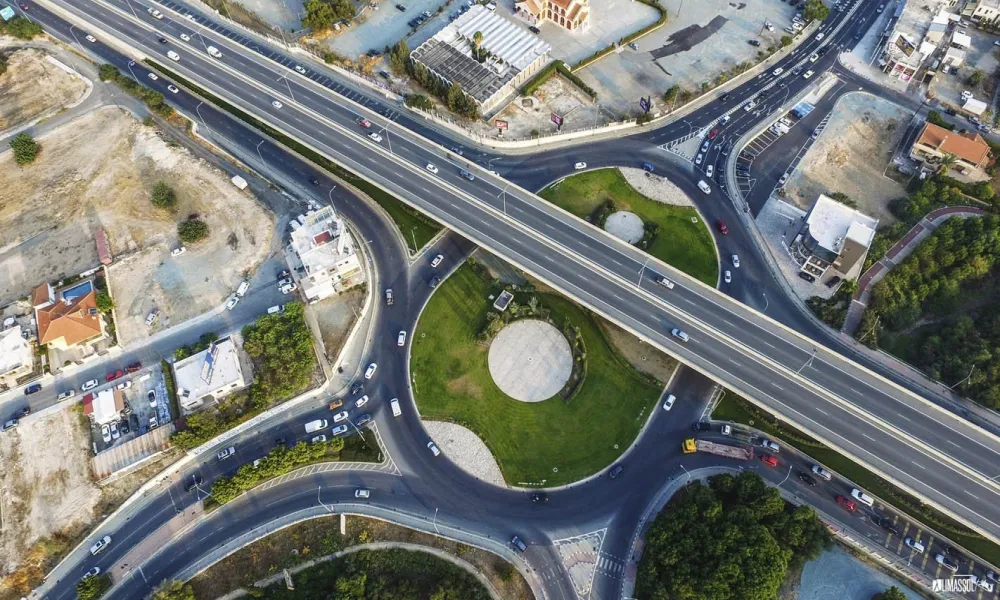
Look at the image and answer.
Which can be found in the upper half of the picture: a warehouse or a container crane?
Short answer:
warehouse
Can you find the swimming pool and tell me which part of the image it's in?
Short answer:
left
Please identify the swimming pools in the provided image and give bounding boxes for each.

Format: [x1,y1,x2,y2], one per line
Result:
[62,279,96,299]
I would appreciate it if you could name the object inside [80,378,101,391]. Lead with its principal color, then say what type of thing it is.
white vehicle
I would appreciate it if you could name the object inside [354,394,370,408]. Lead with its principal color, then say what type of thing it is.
white car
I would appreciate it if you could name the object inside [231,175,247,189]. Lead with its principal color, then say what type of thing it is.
white vehicle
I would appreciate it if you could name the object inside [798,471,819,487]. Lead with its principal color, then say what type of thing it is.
black car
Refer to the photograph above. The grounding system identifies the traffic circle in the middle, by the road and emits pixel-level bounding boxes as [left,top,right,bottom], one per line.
[384,145,762,544]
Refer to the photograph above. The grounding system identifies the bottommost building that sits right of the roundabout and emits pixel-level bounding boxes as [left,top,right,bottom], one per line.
[783,193,878,280]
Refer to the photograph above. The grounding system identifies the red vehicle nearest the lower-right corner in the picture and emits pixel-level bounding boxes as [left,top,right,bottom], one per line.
[835,495,858,513]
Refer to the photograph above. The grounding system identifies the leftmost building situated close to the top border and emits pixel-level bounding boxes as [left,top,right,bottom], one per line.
[411,6,553,118]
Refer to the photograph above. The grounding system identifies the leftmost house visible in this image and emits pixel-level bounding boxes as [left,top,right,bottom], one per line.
[0,325,46,393]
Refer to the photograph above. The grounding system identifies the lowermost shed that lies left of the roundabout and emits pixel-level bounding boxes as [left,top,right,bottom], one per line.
[92,424,178,479]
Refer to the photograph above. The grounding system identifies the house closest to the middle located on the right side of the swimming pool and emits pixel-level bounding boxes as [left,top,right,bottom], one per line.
[289,205,364,311]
